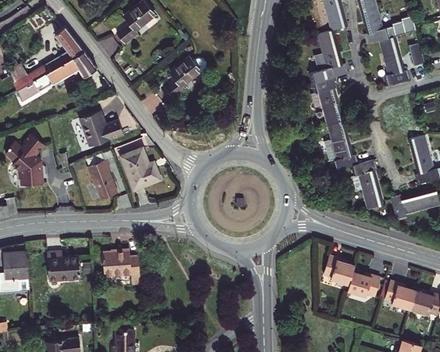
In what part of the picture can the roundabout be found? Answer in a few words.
center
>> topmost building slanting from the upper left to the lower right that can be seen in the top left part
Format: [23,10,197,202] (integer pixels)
[55,28,82,56]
